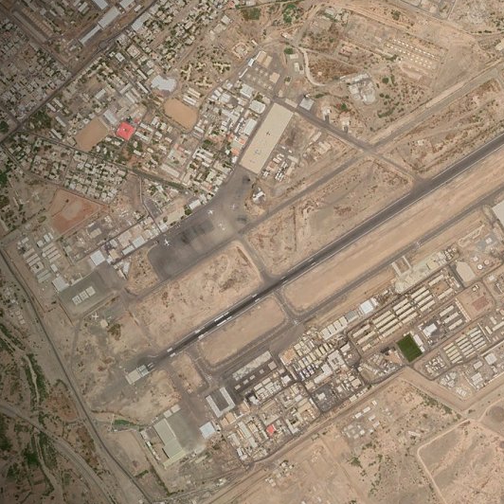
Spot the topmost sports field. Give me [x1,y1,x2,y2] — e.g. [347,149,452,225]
[164,98,197,129]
